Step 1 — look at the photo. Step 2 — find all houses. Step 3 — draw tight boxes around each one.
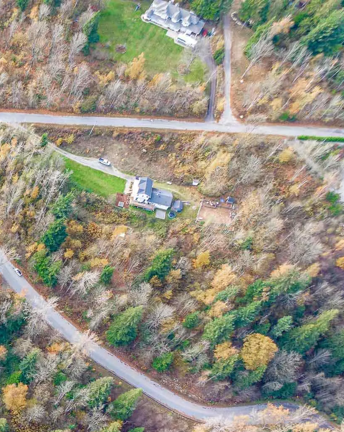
[130,171,177,211]
[137,0,206,36]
